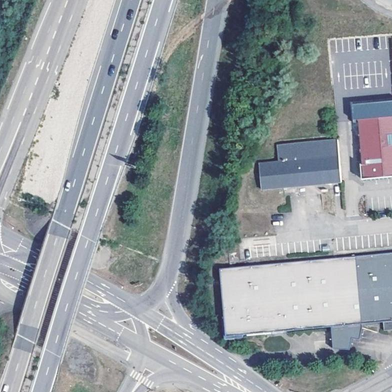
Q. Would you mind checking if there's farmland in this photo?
No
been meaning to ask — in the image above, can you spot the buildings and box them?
[220,252,392,338]
[258,140,342,190]
[358,117,392,180]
